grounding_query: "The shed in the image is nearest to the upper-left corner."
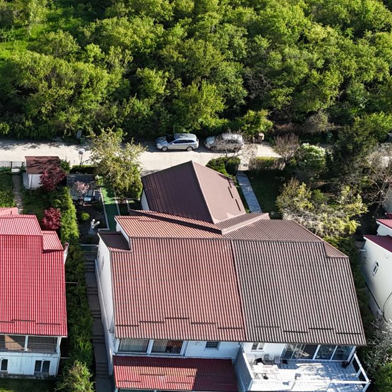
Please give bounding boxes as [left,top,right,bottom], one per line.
[27,149,60,188]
